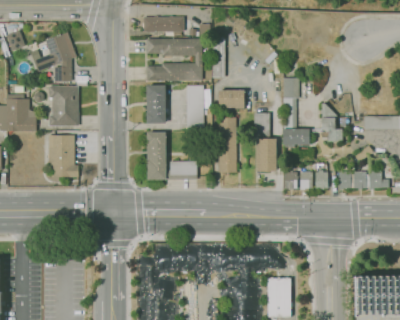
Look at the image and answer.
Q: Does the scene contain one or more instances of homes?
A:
Yes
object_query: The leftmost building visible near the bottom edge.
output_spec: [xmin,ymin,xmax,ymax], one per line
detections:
[268,277,292,318]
